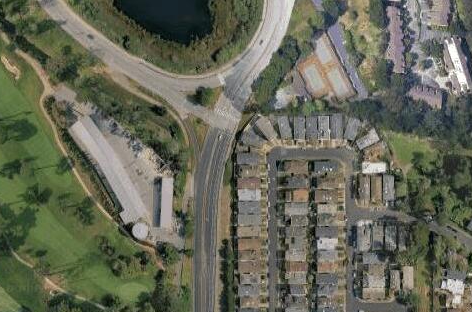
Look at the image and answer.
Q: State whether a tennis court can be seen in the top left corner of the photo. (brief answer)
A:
No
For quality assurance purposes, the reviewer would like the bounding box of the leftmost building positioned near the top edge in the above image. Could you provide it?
[385,5,405,72]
